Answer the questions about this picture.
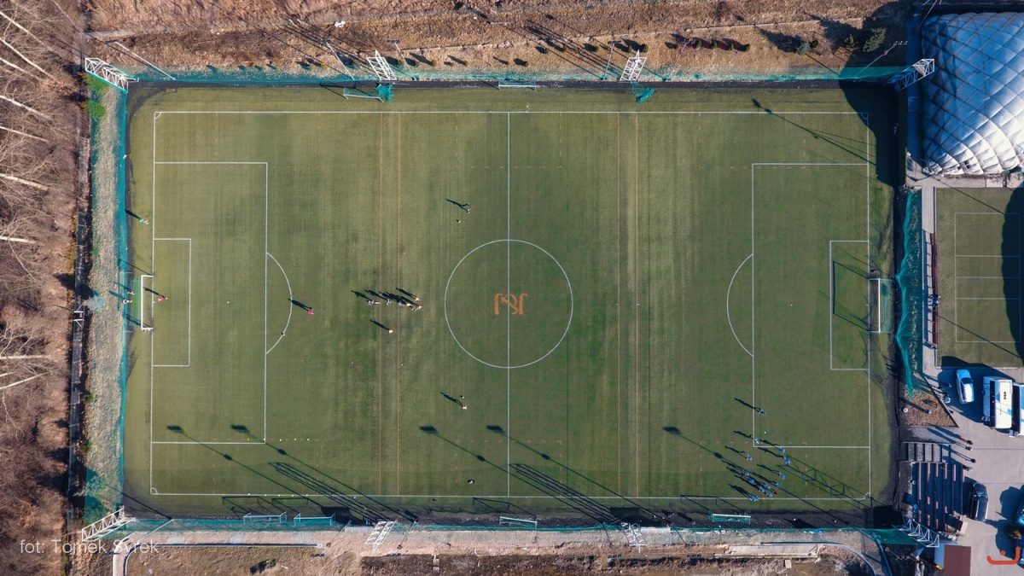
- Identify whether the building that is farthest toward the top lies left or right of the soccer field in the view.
on the right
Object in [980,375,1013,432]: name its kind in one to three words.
vehicle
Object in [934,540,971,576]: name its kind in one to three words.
shed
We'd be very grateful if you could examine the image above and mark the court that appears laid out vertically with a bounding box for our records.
[937,187,1024,368]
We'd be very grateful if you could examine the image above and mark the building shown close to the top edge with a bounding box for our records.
[921,11,1024,177]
